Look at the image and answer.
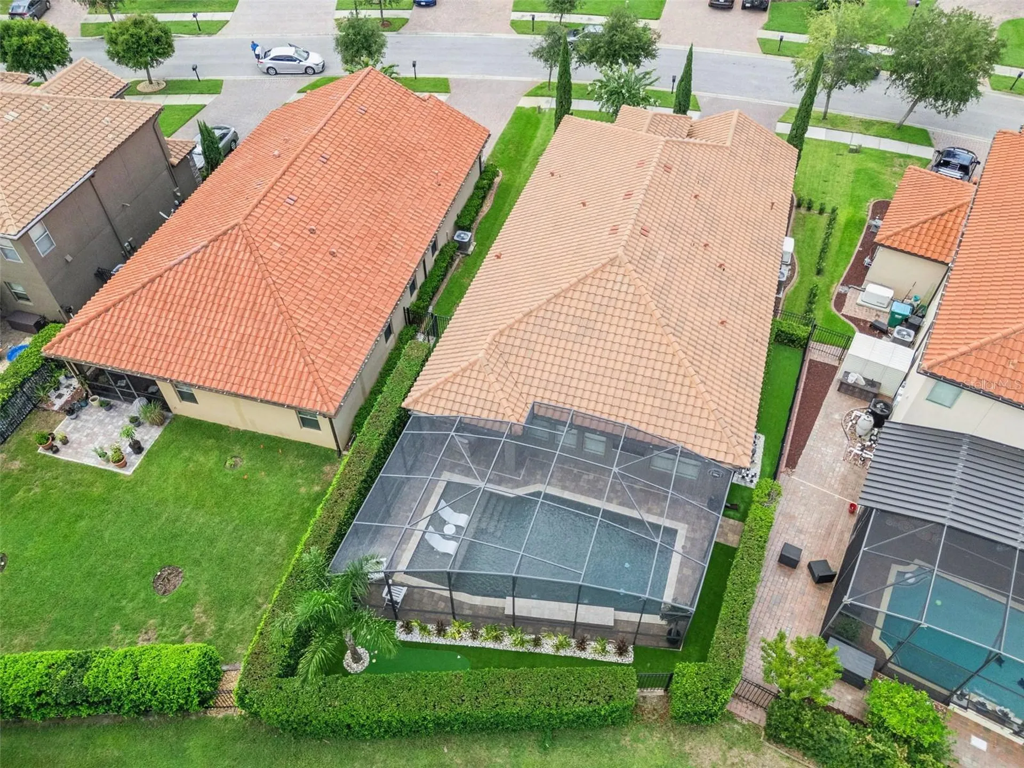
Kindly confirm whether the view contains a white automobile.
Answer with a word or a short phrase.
Yes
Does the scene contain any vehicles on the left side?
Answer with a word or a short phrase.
Yes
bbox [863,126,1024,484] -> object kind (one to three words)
house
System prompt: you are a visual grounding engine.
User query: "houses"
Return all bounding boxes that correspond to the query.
[403,102,802,499]
[40,64,493,460]
[863,126,1024,484]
